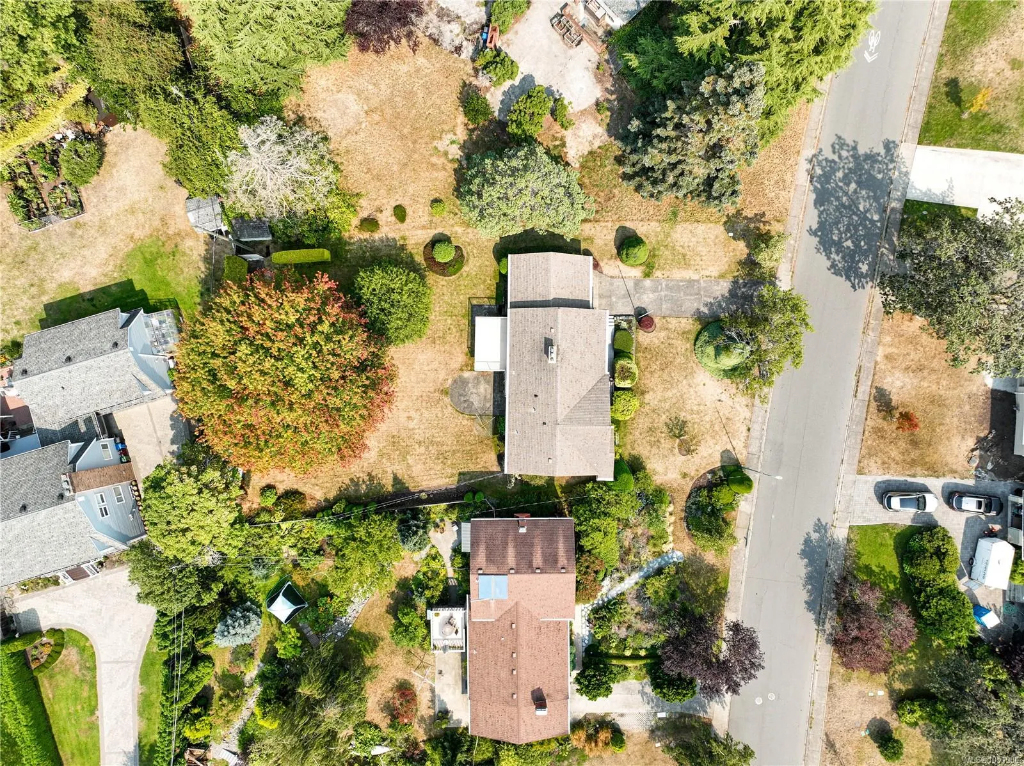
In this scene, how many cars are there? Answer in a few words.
two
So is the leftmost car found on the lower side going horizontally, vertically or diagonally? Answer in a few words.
horizontally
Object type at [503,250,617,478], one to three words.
house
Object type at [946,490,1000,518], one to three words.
car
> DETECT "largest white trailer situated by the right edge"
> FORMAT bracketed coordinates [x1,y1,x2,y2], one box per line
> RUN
[962,529,1015,591]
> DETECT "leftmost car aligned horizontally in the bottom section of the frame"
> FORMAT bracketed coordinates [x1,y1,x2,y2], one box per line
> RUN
[880,489,936,516]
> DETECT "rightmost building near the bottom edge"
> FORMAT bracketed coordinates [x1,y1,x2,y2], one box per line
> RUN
[467,510,577,742]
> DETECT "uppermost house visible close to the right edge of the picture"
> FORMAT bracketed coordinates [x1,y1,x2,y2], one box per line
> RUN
[987,366,1023,391]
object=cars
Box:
[946,490,1000,518]
[880,489,936,516]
